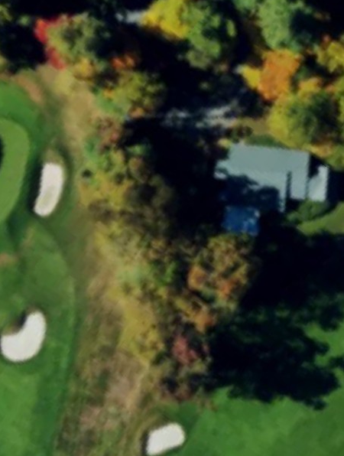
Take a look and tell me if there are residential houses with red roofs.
No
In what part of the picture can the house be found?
right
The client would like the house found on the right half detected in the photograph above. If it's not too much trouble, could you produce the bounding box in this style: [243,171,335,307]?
[219,140,330,236]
